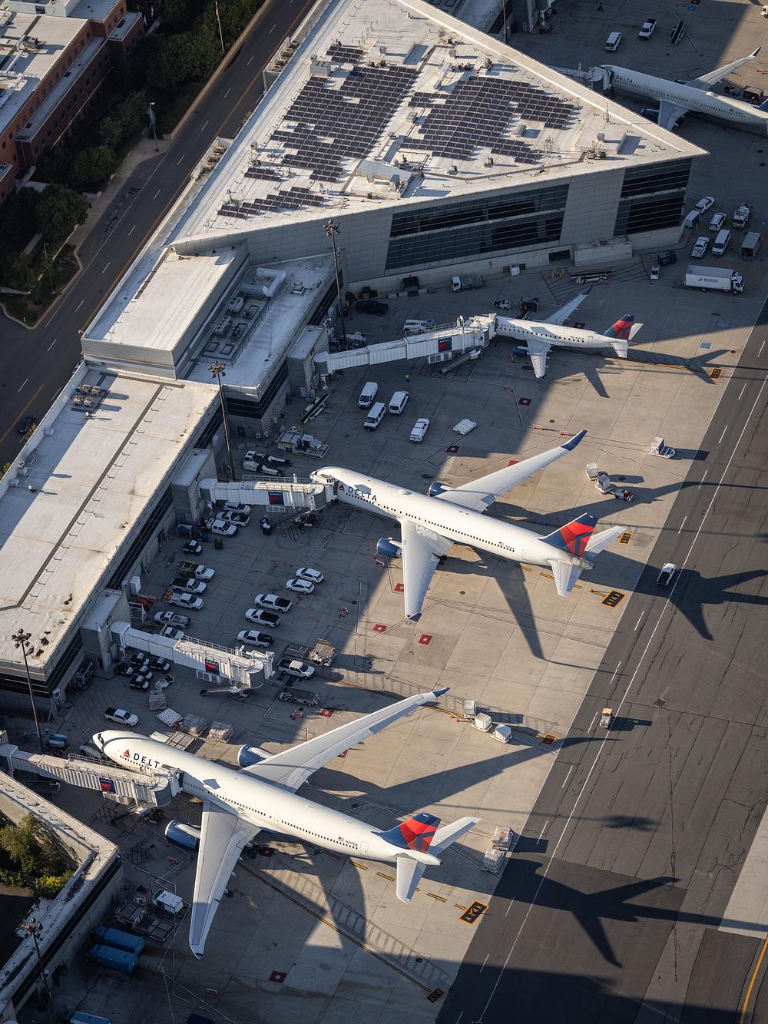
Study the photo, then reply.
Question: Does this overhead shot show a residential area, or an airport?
airport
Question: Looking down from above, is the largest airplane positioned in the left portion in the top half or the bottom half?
bottom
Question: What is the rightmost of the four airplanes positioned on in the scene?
apron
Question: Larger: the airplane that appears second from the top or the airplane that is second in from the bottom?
the airplane that is second in from the bottom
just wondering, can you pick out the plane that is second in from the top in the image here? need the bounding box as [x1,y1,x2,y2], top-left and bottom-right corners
[470,281,644,378]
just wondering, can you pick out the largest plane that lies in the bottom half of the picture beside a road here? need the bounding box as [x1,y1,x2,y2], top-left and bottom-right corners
[91,681,478,953]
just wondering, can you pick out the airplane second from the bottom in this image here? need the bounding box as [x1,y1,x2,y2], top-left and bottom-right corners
[310,430,626,616]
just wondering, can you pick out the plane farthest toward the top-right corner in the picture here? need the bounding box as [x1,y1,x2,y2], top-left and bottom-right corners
[596,42,768,133]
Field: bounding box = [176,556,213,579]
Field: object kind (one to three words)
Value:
truck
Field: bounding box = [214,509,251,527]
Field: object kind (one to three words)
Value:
vehicle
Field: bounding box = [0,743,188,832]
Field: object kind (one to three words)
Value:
jet bridge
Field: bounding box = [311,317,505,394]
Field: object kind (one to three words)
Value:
jet bridge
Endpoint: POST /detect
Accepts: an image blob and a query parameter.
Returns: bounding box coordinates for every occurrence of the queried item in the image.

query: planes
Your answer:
[310,430,626,616]
[91,681,478,953]
[596,42,768,133]
[470,281,644,378]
